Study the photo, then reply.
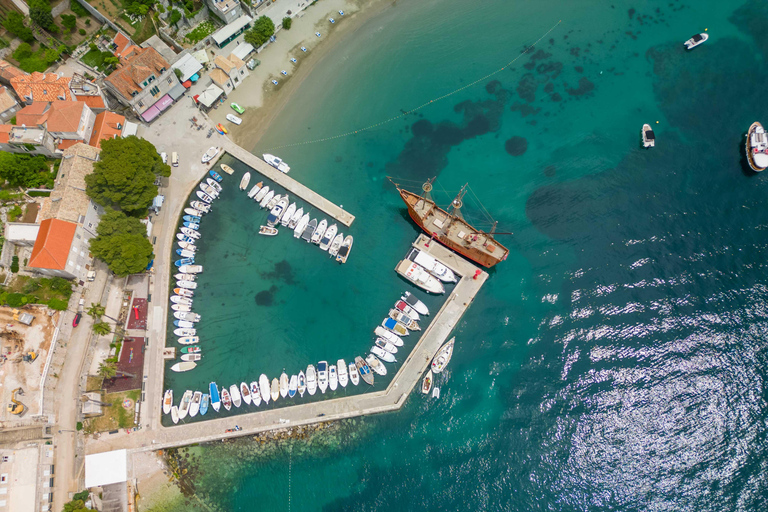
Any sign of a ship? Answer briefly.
Yes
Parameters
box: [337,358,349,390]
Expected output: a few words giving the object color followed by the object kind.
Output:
white boat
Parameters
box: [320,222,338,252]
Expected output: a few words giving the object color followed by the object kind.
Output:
white boat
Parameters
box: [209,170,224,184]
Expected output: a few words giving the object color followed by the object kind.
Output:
blue boat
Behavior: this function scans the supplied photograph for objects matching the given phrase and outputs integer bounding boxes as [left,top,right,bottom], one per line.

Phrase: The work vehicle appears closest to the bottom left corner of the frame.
[8,388,26,416]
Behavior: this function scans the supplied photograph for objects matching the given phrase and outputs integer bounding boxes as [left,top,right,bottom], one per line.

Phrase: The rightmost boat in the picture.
[746,121,768,173]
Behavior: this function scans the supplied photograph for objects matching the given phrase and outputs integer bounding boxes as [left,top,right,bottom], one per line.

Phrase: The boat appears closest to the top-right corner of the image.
[682,34,708,50]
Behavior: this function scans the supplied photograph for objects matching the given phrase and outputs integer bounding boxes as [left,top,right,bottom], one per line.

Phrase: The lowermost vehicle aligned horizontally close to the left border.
[10,351,40,364]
